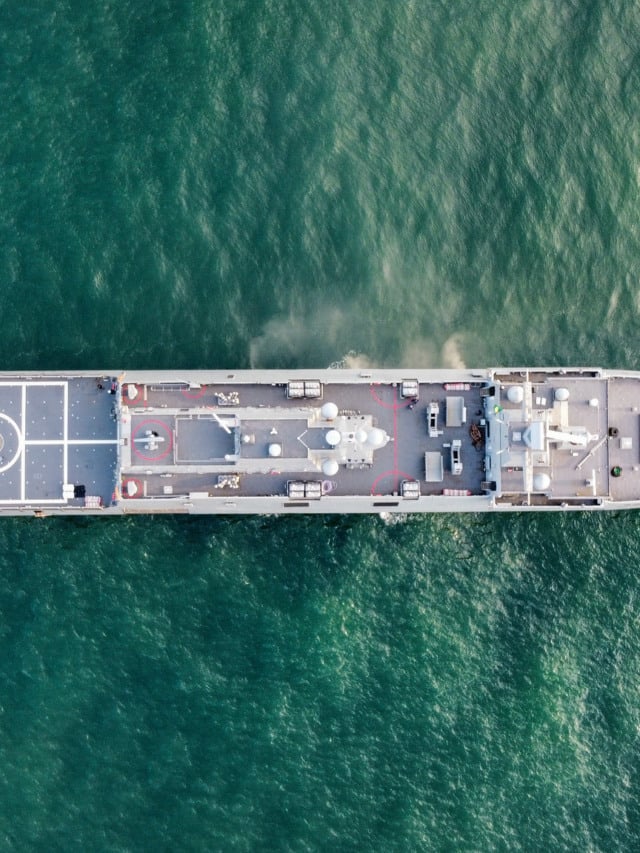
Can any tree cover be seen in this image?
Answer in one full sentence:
No, the picture contains no tree cover.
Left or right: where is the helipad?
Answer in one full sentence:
The helipad appears in the left half of the scene.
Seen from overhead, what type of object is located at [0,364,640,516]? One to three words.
ship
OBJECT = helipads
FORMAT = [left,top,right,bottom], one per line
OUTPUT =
[0,375,116,509]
